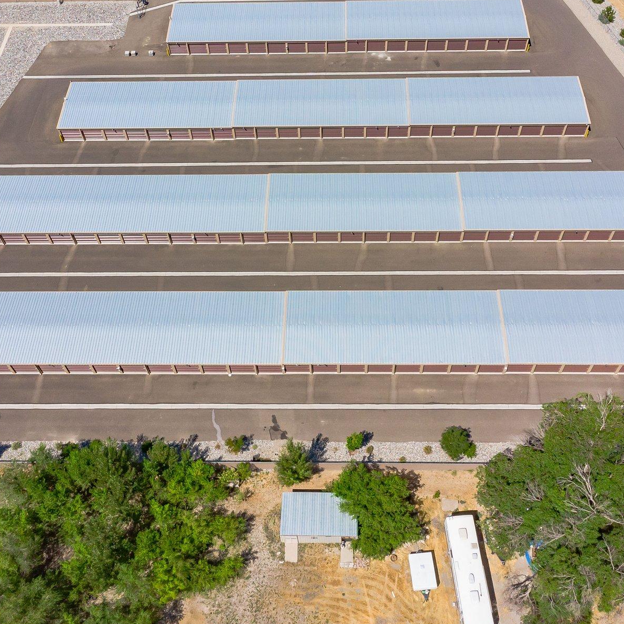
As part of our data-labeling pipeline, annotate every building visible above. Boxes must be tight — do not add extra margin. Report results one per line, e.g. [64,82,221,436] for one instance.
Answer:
[0,171,624,246]
[0,289,624,376]
[56,76,593,142]
[166,0,531,56]
[280,492,358,545]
